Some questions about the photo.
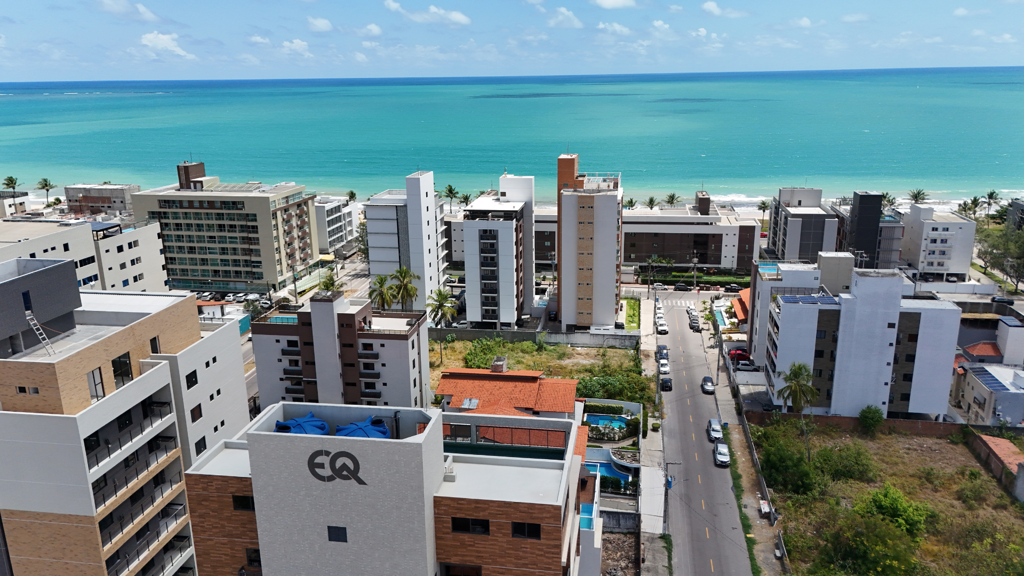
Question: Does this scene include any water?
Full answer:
Yes, water can be seen from above here.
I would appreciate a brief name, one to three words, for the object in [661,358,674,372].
vehicle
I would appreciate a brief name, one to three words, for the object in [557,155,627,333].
building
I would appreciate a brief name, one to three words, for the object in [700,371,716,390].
car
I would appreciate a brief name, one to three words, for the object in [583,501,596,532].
swimming pool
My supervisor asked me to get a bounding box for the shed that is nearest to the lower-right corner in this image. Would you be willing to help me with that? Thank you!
[984,432,1024,477]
